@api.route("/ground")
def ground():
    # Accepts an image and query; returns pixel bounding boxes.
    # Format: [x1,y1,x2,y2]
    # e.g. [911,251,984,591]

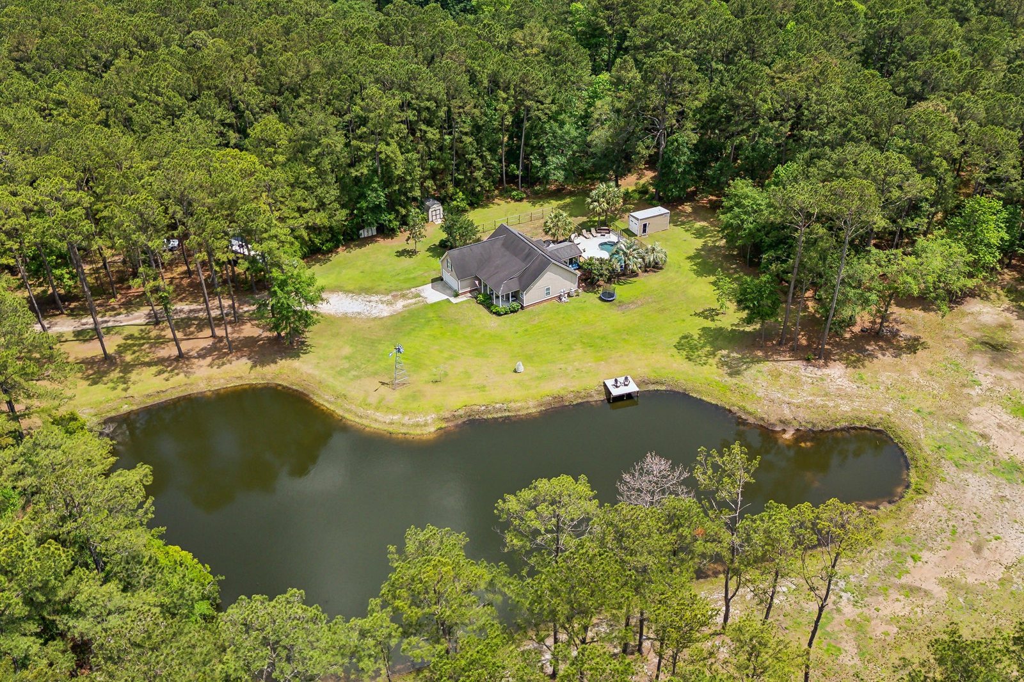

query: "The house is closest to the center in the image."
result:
[438,225,585,309]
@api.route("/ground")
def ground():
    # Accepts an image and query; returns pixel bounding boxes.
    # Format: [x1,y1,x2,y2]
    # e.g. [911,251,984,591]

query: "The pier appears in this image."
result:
[603,376,640,401]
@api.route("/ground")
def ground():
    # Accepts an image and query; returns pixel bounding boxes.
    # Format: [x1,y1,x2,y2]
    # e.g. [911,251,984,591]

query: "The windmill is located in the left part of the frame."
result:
[386,344,407,388]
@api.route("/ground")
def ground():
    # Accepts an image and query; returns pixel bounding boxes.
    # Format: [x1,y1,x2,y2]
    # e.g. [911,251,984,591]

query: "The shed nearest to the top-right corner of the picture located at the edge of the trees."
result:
[627,206,671,236]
